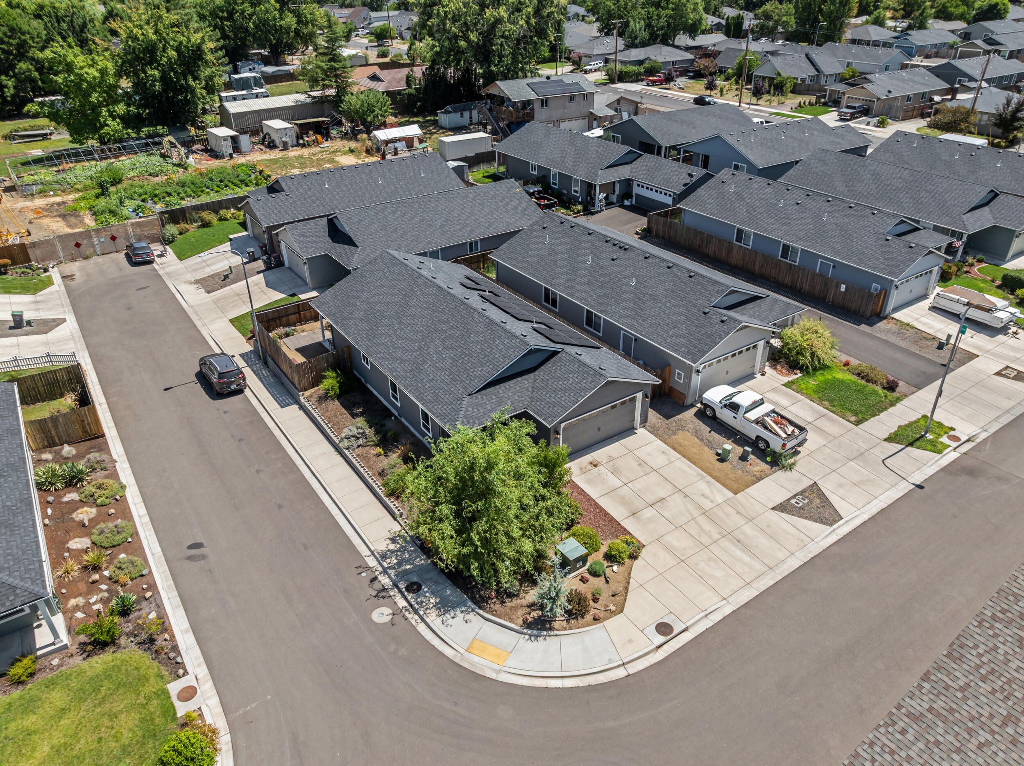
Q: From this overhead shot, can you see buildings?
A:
Yes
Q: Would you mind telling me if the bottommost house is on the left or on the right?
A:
right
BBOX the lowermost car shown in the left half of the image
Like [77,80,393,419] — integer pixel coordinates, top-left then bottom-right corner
[195,351,247,399]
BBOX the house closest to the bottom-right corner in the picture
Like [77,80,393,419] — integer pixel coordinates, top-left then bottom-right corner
[841,571,1024,766]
